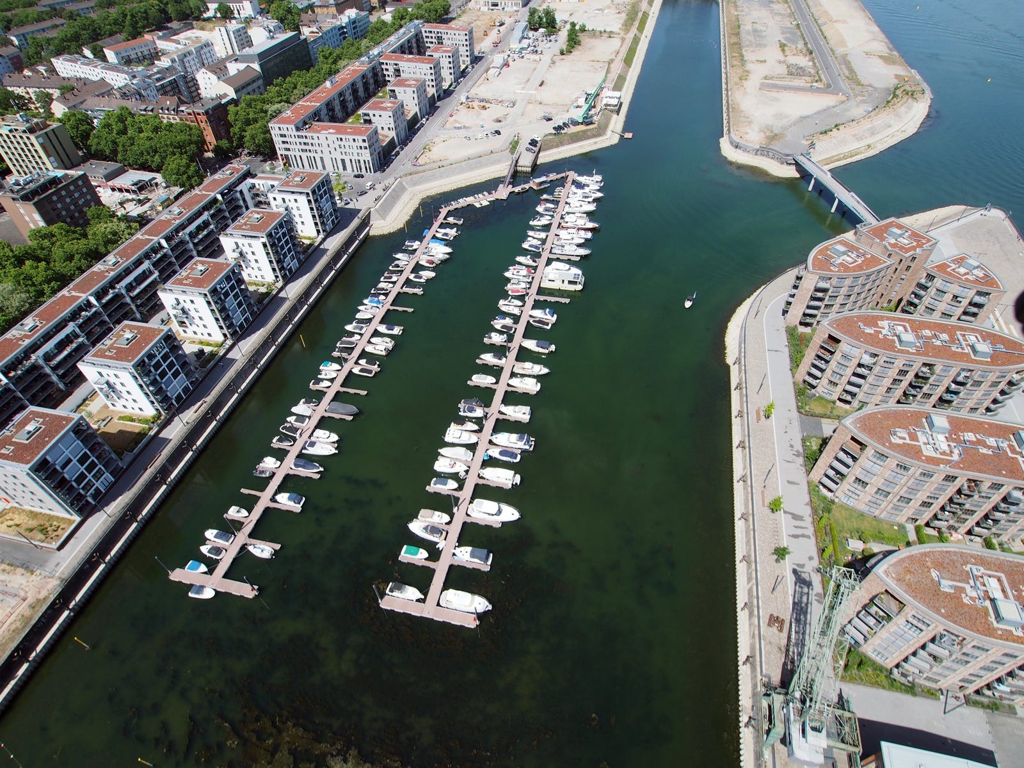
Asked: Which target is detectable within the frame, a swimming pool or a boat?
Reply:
boat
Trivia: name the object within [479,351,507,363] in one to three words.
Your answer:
boat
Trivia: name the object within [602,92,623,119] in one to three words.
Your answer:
building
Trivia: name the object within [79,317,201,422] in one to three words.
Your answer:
building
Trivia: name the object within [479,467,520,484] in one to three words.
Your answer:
boat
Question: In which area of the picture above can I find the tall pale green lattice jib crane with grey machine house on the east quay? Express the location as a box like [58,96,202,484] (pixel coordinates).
[767,561,868,768]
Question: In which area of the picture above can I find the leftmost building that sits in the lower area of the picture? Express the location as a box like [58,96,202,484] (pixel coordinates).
[0,403,126,521]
